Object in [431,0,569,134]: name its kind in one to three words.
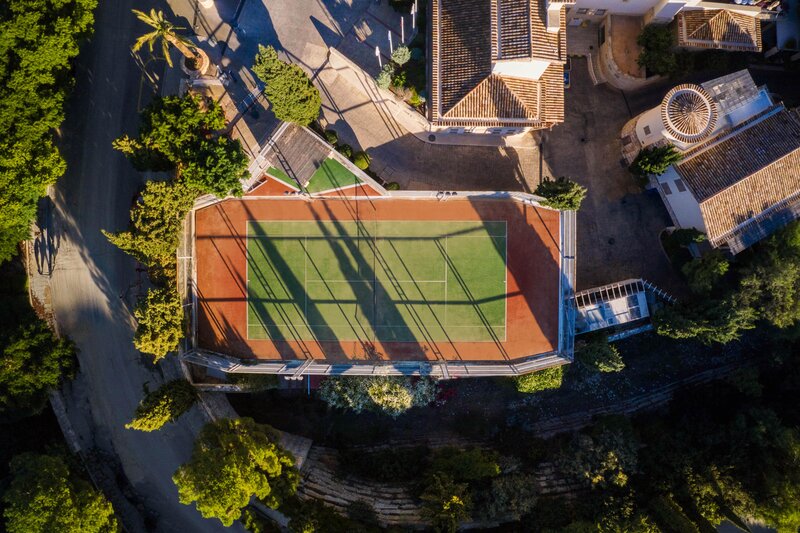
house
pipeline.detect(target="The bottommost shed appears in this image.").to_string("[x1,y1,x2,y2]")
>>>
[564,277,649,334]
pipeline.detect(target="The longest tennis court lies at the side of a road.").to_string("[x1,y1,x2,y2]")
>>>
[196,199,559,363]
